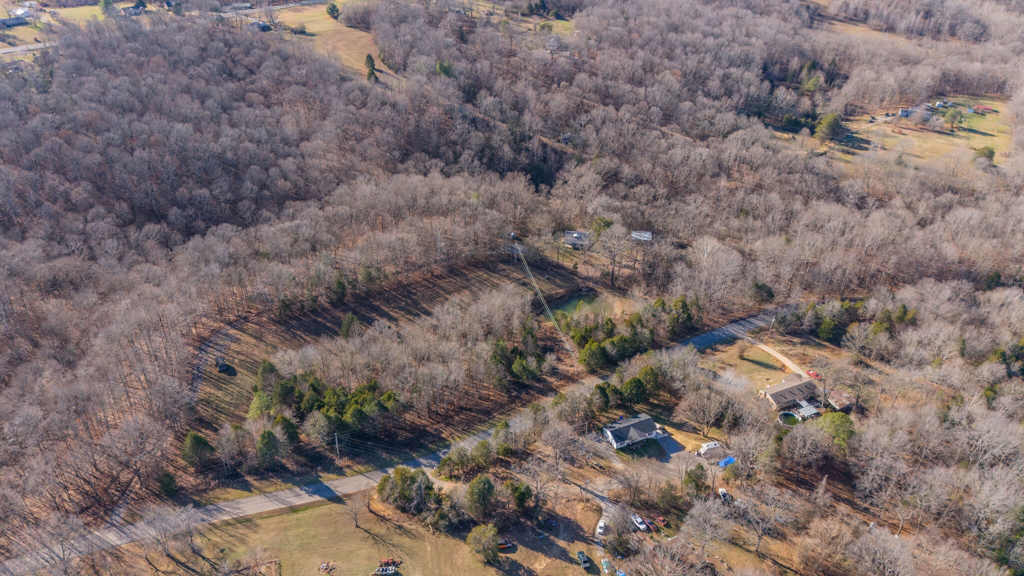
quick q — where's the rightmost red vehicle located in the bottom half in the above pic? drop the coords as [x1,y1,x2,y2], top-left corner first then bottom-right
[804,368,825,382]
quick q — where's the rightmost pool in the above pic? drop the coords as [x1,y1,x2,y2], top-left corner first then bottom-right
[779,412,802,431]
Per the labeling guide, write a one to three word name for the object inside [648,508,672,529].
truck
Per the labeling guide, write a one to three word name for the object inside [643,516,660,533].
car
